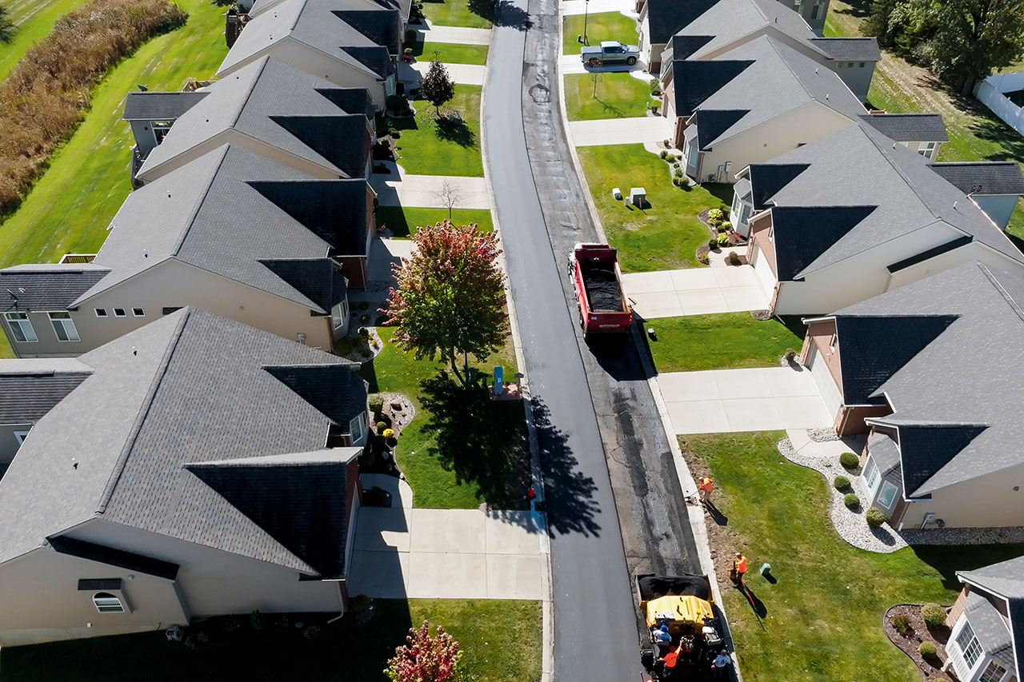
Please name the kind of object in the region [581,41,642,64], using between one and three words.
truck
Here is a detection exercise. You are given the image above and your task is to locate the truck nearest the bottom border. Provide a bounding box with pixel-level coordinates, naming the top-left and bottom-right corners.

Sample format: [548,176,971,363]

[566,237,637,344]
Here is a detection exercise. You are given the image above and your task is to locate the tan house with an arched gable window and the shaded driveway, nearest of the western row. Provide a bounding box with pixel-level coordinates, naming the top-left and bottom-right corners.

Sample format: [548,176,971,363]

[0,306,375,654]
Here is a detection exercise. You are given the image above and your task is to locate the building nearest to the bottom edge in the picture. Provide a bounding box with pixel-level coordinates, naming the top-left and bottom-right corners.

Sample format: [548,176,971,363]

[936,555,1024,682]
